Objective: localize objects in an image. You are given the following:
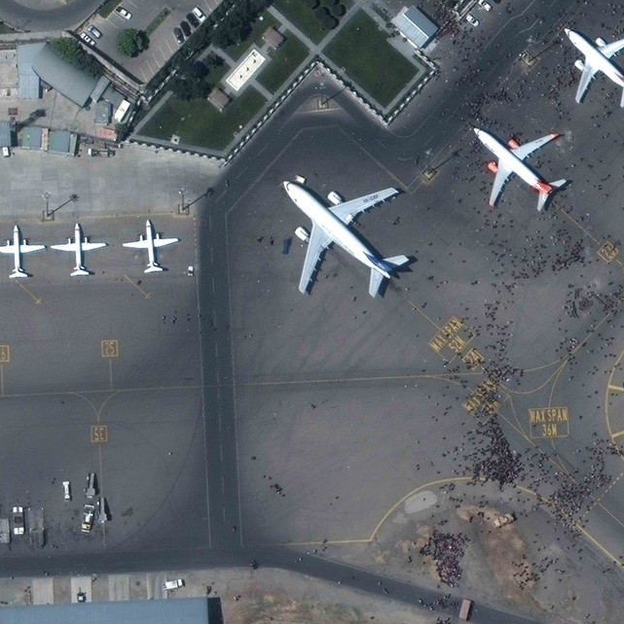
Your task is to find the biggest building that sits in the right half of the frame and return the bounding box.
[395,4,438,50]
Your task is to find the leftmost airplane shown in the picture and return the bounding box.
[0,225,45,275]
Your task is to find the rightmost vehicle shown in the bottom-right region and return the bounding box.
[493,510,516,527]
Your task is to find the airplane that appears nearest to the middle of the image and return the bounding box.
[283,181,402,290]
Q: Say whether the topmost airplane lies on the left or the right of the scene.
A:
right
